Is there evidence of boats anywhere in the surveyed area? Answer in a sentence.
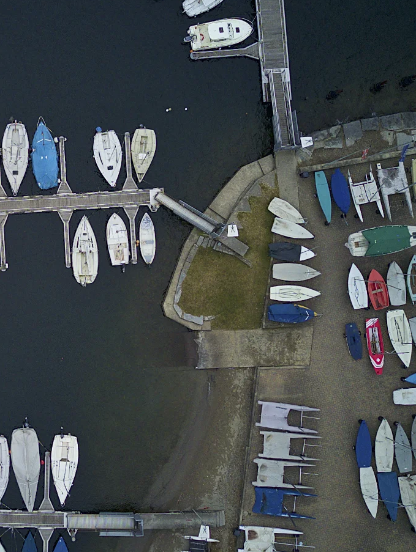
Yes, a boat can be made out from above.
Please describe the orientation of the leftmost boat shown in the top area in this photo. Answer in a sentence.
What the image shows is the leftmost boat shown in the top area lying from top to bottom.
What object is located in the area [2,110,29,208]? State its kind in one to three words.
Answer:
boat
